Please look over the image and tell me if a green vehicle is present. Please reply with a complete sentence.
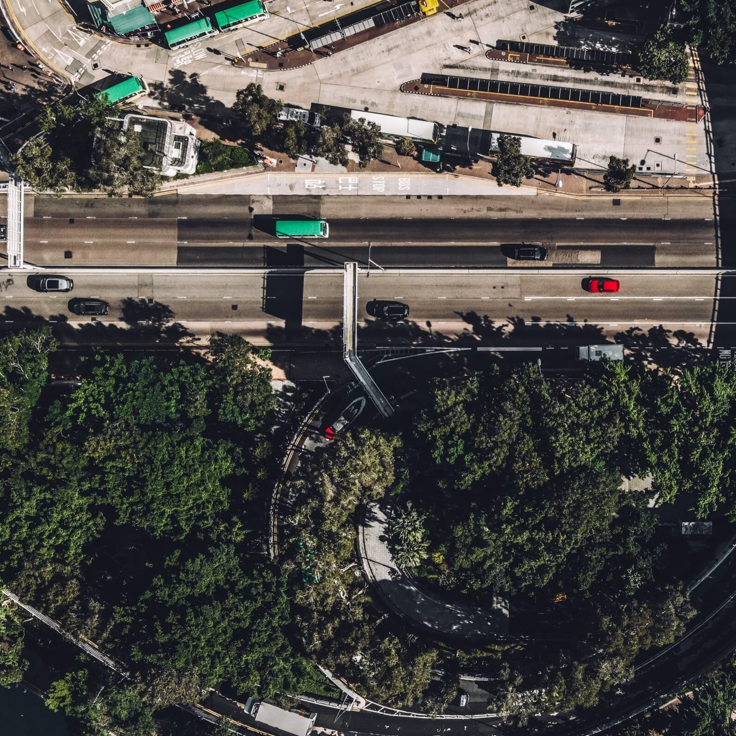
Yes, the picture does show a green vehicle.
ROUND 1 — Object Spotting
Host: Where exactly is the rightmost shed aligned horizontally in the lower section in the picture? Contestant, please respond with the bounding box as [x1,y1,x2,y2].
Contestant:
[680,520,711,533]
